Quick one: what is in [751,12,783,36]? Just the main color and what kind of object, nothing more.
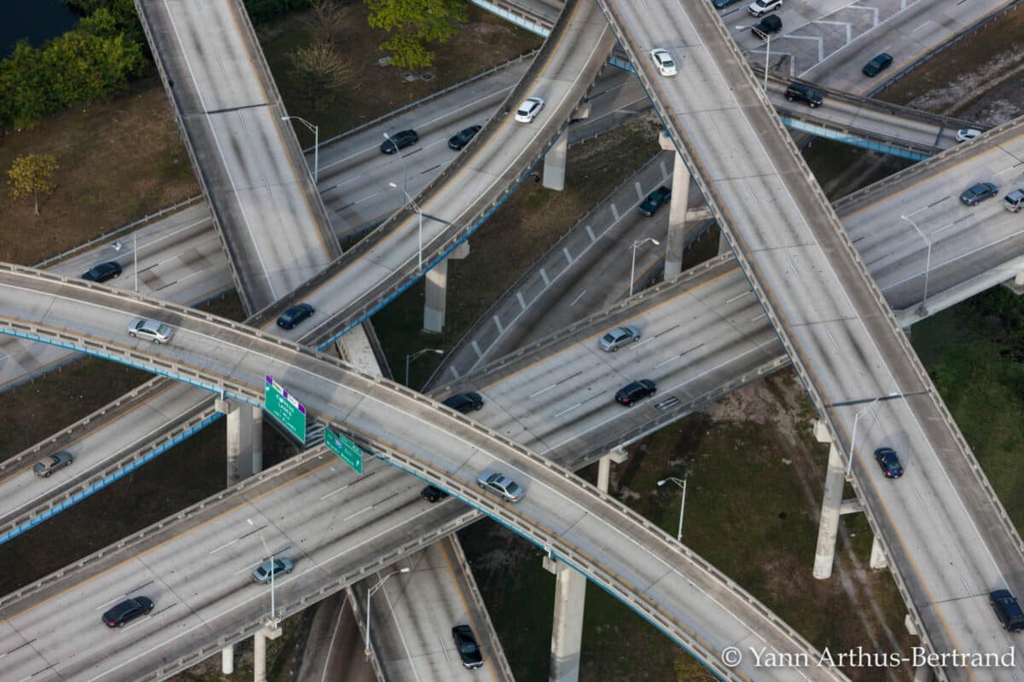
black car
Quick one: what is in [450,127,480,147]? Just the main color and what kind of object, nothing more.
black car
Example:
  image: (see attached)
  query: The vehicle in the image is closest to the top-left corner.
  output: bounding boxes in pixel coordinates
[83,261,120,282]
